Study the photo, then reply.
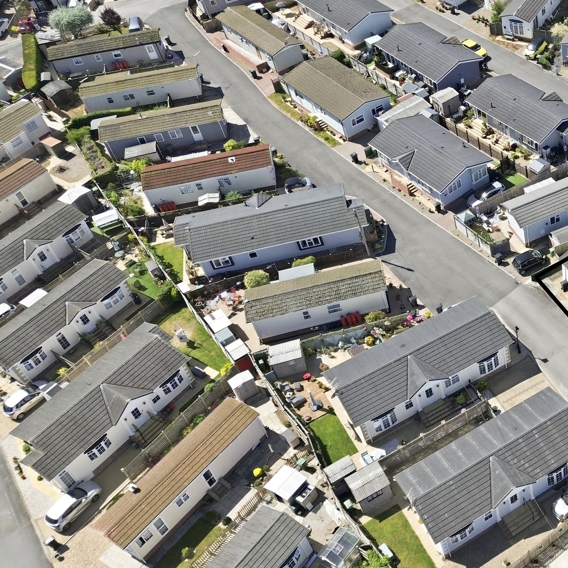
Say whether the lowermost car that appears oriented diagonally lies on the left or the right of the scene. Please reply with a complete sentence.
The lowermost car that appears oriented diagonally appears in the left half of the scene.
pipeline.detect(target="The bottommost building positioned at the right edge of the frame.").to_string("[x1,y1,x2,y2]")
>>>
[393,387,568,556]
